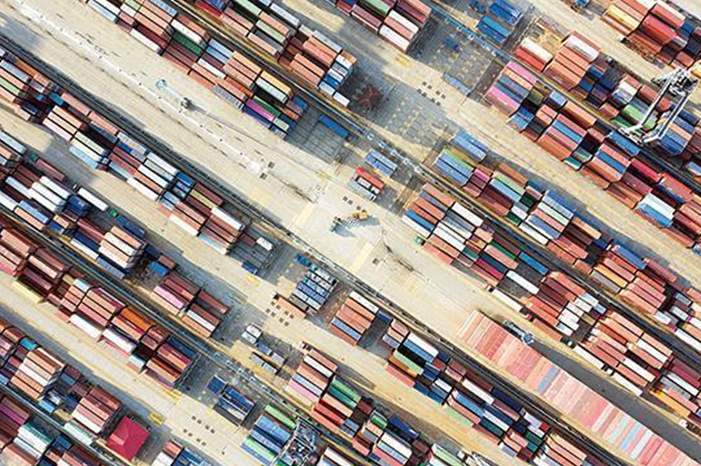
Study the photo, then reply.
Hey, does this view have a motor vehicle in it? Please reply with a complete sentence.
Yes, a motor vehicle is visible in the scene.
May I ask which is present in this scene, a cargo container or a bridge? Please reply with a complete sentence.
Visible in the photo is a cargo container.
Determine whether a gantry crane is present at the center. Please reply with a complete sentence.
No, I see no gantry crane at the center.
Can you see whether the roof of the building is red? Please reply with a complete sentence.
Yes, the roof of the building appears red.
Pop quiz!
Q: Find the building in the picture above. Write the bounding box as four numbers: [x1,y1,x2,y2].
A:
[107,412,155,459]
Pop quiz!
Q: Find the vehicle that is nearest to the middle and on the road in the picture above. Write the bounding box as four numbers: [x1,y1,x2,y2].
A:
[331,209,372,232]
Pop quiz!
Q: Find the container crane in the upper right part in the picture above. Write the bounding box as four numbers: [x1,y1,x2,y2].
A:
[618,55,701,148]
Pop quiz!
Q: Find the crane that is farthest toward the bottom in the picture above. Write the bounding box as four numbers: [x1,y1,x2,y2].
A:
[263,414,326,466]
